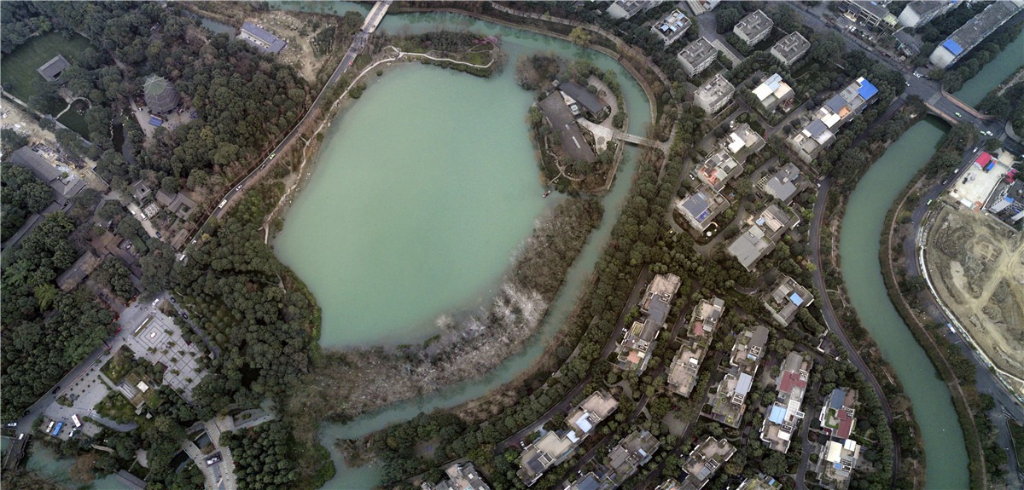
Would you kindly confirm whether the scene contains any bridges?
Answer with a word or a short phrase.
Yes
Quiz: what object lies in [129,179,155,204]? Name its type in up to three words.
building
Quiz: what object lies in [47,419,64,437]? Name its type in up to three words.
vehicle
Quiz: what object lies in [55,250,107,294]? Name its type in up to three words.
building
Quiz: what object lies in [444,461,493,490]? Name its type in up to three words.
house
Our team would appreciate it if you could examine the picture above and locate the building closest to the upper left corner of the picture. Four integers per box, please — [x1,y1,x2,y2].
[36,53,73,85]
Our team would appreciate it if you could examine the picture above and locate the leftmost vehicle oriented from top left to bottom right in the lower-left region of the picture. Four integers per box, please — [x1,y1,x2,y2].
[68,412,82,429]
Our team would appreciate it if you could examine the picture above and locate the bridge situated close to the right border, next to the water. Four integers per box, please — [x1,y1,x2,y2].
[921,85,989,128]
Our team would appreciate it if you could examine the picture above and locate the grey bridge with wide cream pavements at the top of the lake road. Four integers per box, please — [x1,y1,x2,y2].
[354,0,394,38]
